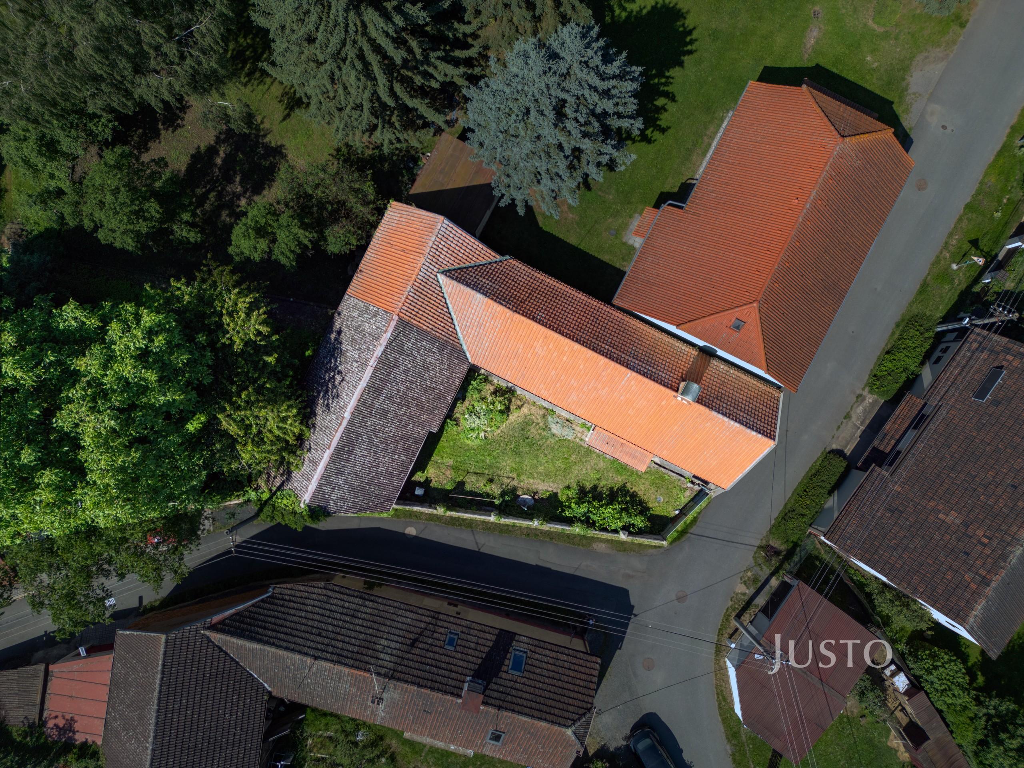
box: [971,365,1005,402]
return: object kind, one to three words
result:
solar panel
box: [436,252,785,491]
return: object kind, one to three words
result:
house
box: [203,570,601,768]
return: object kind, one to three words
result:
house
